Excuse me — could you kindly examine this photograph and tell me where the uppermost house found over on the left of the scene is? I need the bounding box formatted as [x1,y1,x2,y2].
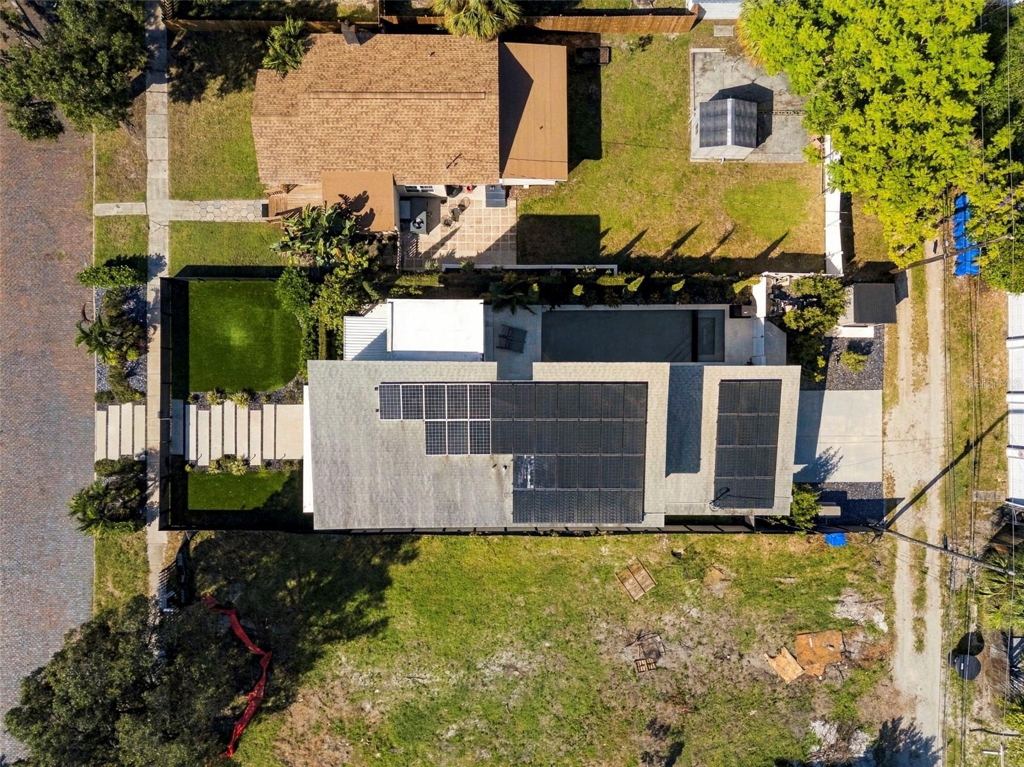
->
[250,20,568,241]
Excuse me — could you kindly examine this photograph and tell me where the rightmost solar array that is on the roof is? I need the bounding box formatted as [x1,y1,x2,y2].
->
[713,380,783,510]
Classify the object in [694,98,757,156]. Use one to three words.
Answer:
shed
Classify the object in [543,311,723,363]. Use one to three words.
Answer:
swimming pool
